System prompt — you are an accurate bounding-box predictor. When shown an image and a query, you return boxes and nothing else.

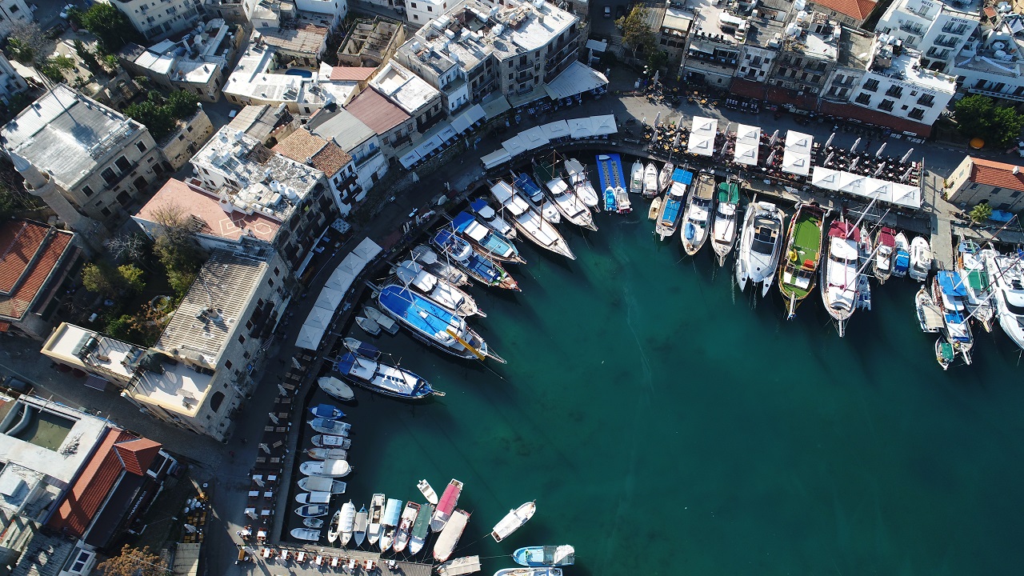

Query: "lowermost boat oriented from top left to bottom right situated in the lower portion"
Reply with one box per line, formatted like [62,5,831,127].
[417,478,437,503]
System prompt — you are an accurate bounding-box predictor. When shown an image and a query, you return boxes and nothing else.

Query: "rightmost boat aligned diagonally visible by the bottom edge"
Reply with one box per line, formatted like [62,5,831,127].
[490,501,537,548]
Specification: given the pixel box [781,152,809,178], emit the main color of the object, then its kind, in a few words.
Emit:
white umbrella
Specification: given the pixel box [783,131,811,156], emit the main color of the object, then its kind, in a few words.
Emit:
white umbrella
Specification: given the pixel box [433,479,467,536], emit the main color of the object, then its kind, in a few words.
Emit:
pink boat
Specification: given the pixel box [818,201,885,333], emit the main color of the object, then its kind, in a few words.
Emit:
white boat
